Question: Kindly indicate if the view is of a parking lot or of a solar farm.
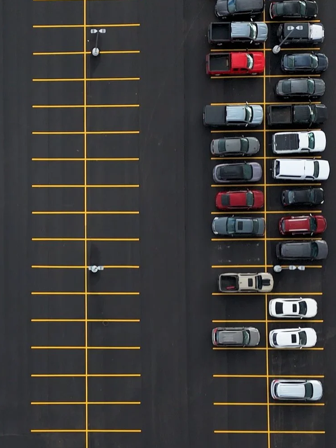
parking lot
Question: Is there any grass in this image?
No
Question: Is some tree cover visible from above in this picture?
No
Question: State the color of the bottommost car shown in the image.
white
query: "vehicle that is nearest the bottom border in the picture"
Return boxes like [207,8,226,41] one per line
[270,380,322,402]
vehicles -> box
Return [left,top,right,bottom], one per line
[212,161,262,183]
[214,189,264,210]
[280,51,327,73]
[280,186,323,208]
[277,214,326,236]
[206,20,268,45]
[202,102,264,127]
[268,0,317,21]
[275,76,324,99]
[275,239,327,262]
[271,129,327,153]
[205,50,266,75]
[211,216,266,237]
[268,327,316,349]
[214,0,265,20]
[276,21,325,44]
[210,135,259,156]
[267,101,327,127]
[268,297,316,319]
[217,271,273,295]
[271,156,331,181]
[270,380,322,402]
[211,327,259,349]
